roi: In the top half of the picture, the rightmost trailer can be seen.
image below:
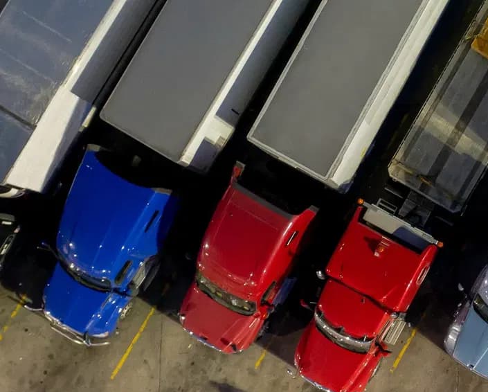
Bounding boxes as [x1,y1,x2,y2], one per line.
[387,0,488,209]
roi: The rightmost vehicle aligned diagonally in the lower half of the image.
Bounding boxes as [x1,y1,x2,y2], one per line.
[289,171,488,392]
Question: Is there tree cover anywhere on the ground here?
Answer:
No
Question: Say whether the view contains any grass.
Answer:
No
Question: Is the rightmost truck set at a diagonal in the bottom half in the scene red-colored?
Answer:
Yes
